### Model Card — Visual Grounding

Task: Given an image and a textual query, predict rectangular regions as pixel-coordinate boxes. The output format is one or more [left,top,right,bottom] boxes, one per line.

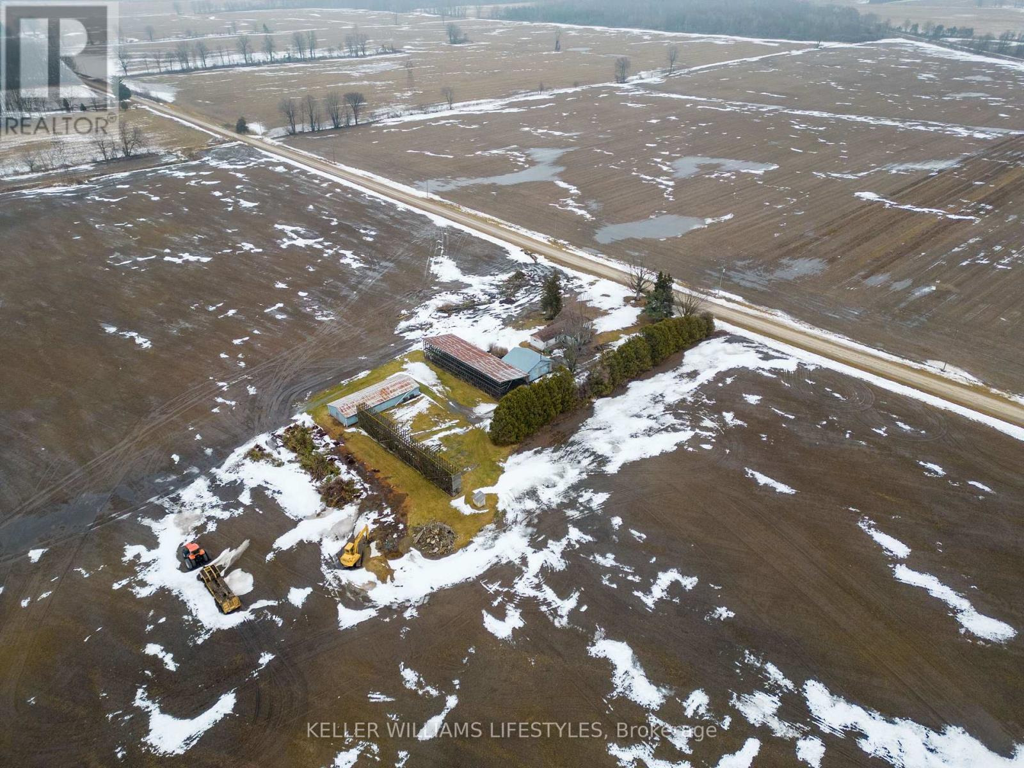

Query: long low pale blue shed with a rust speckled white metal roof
[324,369,420,427]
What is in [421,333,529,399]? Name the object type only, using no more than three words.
shed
